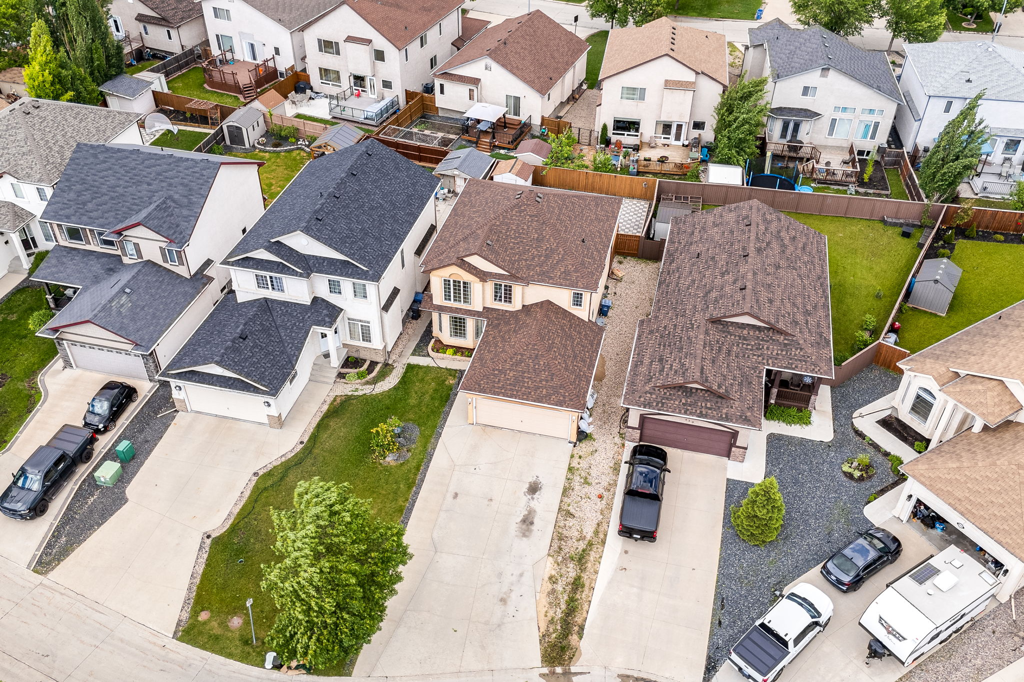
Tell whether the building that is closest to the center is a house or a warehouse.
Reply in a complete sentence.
Specifically, the building that is closest to the center is a house.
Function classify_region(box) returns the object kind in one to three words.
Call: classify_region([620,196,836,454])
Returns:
house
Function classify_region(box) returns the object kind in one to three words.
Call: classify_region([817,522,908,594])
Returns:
car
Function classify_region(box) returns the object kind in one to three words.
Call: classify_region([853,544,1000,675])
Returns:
trailer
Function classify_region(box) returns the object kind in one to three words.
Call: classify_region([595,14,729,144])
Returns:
house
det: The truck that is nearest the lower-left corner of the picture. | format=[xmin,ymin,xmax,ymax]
[0,425,94,528]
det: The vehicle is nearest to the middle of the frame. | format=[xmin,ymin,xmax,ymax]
[616,441,673,543]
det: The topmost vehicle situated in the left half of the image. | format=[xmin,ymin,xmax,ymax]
[76,375,139,433]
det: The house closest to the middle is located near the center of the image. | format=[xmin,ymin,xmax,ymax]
[416,177,625,445]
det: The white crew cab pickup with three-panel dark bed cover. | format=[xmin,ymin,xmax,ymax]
[723,577,841,682]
